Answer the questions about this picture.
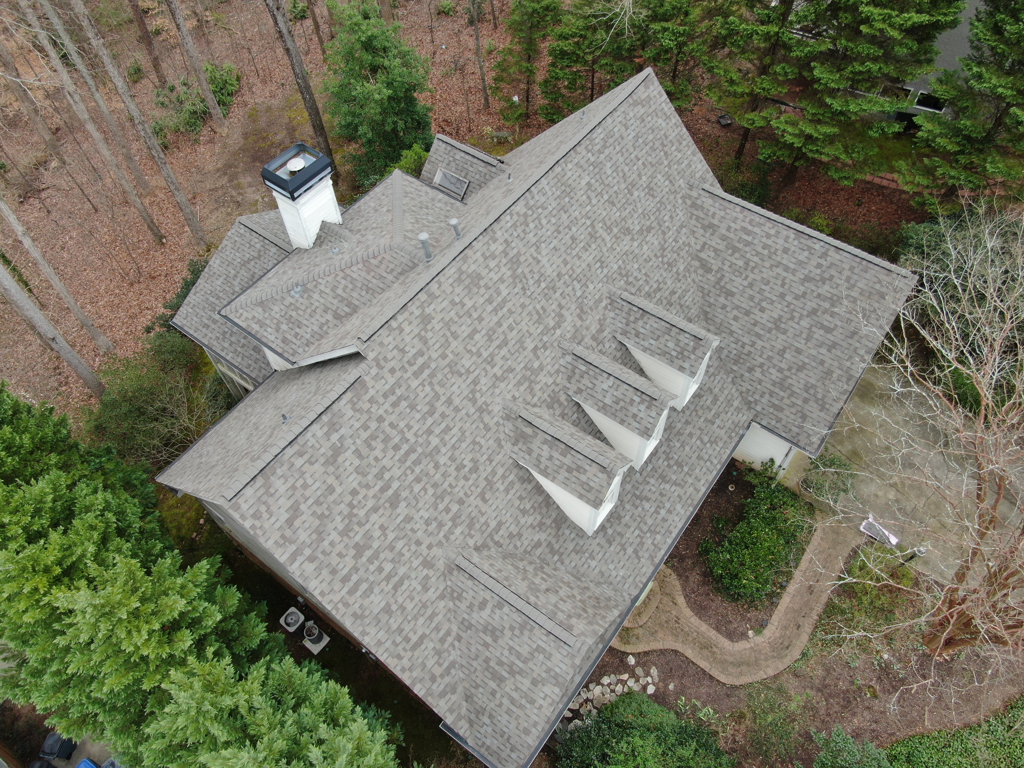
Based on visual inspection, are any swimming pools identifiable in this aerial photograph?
No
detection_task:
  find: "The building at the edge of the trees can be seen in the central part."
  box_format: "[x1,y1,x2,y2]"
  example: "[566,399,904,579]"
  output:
[153,69,919,768]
